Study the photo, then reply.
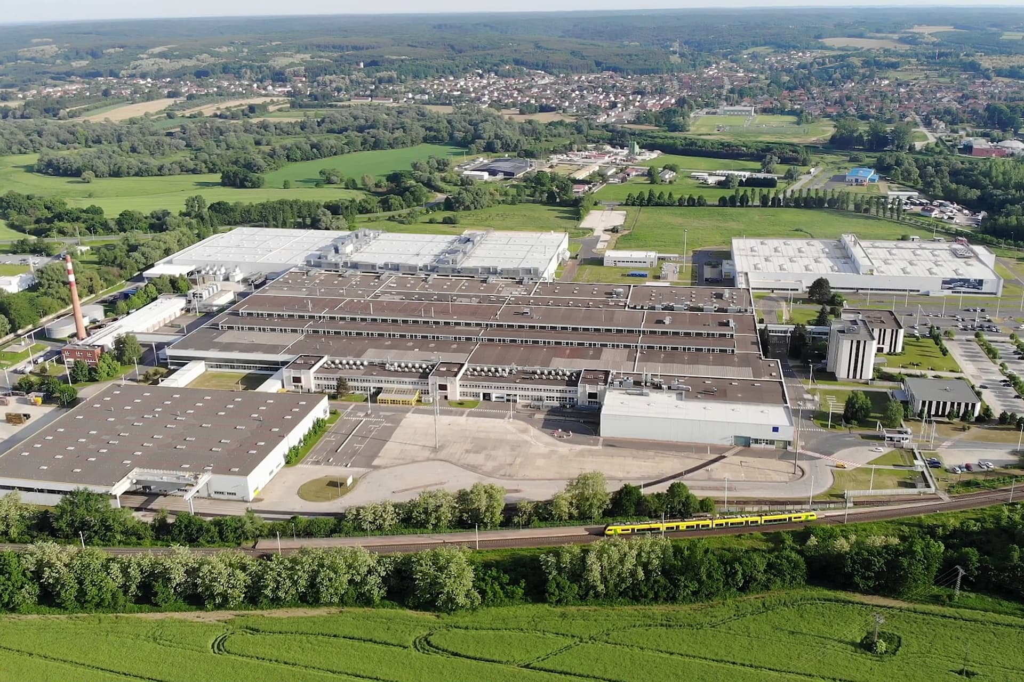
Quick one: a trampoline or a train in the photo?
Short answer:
train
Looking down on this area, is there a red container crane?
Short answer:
No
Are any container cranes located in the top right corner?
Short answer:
No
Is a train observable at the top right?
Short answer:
No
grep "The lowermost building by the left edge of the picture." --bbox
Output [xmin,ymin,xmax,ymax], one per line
[0,381,326,505]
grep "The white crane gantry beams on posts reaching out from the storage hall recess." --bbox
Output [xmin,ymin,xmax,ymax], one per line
[108,463,213,508]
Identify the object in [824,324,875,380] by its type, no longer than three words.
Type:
building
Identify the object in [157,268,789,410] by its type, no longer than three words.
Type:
building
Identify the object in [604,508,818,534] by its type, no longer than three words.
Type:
train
